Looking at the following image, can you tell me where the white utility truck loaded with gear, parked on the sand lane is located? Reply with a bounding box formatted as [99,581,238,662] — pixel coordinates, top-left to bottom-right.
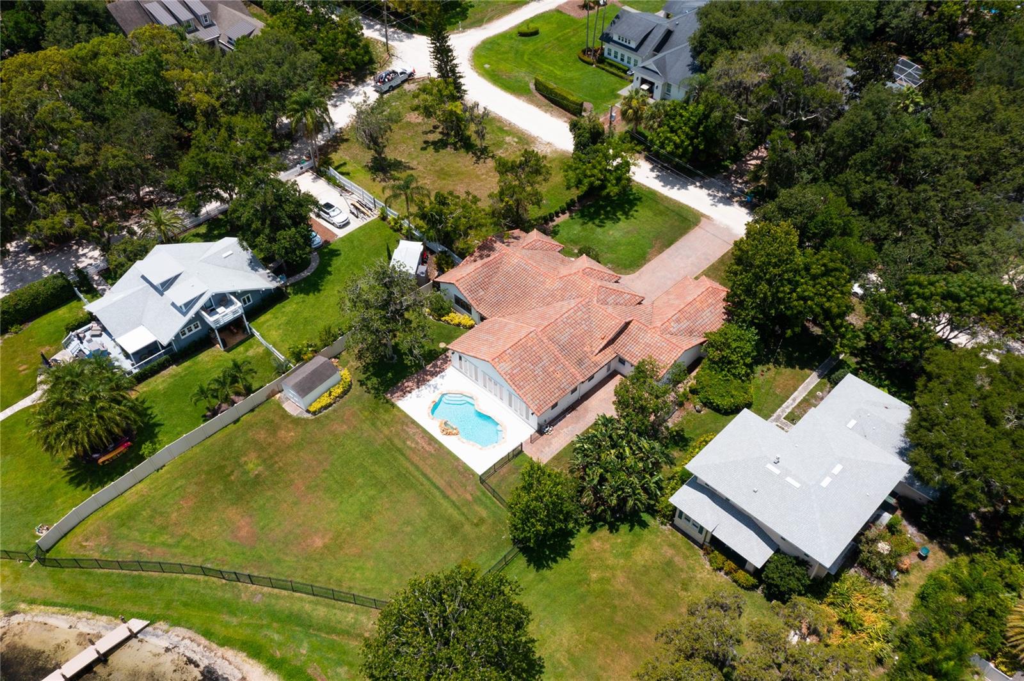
[373,68,413,94]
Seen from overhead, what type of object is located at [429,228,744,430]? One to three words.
house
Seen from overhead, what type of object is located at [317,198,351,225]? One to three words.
car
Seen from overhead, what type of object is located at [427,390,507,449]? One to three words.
swimming pool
